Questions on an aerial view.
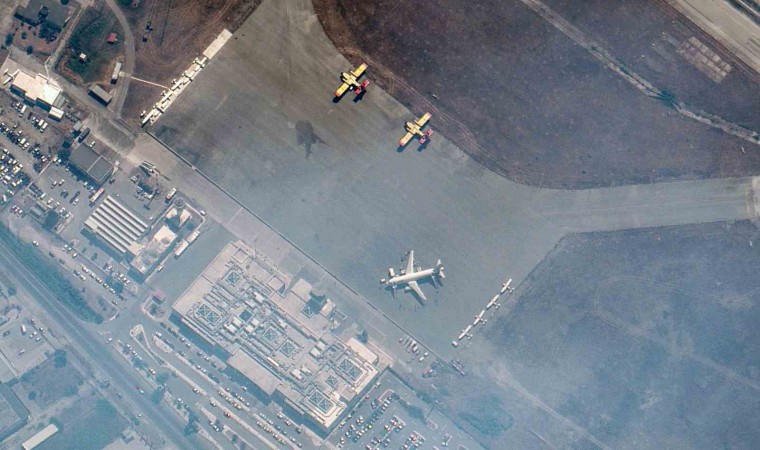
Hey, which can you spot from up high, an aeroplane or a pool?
aeroplane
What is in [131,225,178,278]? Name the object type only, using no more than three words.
building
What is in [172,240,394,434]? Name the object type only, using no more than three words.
building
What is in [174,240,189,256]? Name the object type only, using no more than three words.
vehicle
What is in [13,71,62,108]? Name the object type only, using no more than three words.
hangar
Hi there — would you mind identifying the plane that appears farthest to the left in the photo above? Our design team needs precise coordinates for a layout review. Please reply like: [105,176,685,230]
[1,68,19,83]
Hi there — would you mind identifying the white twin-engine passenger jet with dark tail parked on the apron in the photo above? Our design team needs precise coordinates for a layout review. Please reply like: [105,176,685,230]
[387,250,443,299]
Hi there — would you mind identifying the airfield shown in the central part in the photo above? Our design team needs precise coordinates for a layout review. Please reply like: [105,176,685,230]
[148,0,760,366]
